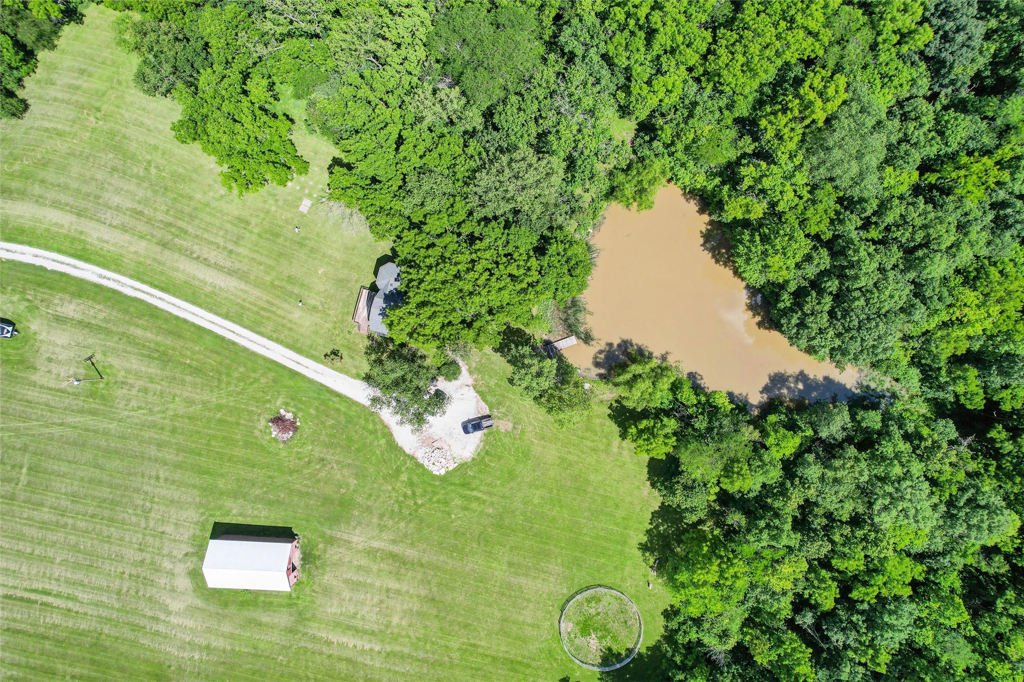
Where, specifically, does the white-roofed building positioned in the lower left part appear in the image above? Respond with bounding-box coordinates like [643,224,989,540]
[200,536,298,593]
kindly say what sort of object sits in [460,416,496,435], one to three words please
vehicle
